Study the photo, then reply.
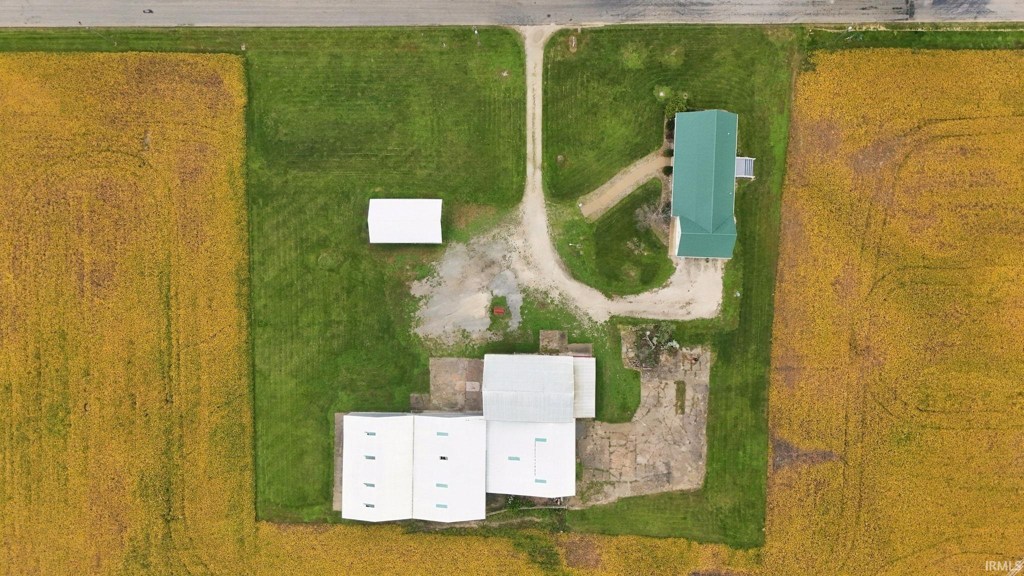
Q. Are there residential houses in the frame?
Yes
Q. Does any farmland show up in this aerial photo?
Yes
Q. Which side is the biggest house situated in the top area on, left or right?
right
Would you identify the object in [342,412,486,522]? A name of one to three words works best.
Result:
barn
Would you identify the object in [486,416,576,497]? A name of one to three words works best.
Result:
barn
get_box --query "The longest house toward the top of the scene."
[670,109,738,260]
